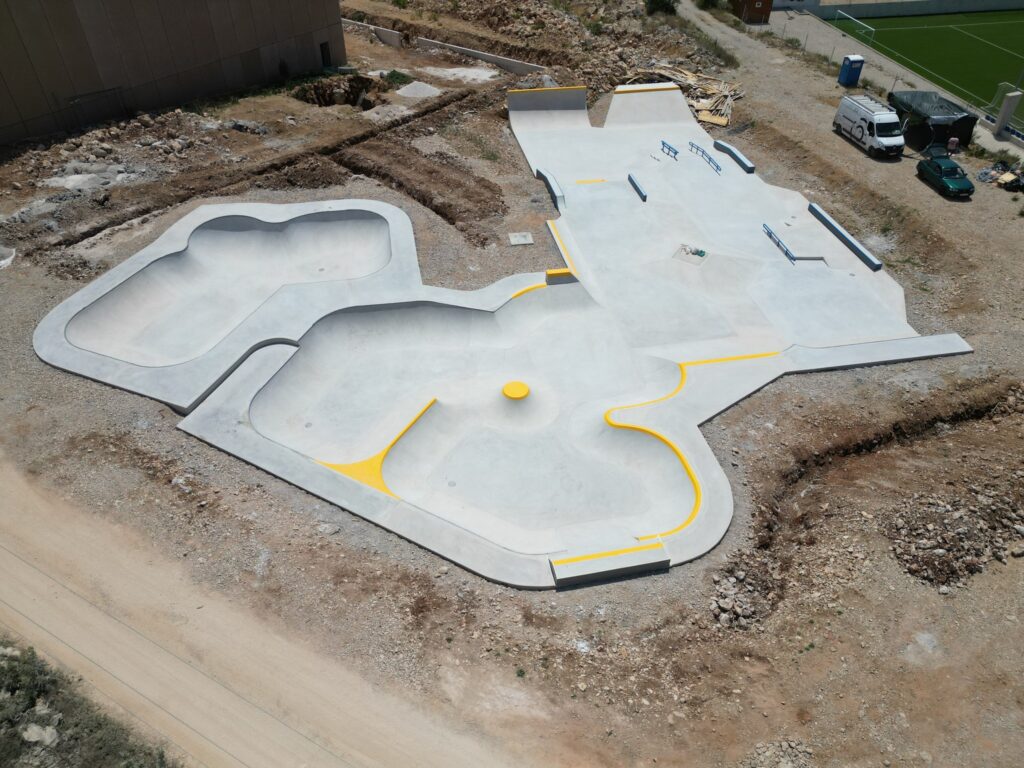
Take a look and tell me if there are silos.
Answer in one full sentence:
No, no silo is visible in the scene.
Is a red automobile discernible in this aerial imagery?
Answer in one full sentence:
No, there's no red automobile here.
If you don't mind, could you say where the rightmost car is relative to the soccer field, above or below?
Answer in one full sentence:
From this view, the rightmost car can be seen below the soccer field.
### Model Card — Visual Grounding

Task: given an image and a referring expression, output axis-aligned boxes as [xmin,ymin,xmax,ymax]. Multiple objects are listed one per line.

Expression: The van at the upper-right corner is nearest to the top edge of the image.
[831,91,909,157]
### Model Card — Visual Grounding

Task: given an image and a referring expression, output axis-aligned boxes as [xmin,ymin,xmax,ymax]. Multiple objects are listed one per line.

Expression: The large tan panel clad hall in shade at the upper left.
[0,0,345,155]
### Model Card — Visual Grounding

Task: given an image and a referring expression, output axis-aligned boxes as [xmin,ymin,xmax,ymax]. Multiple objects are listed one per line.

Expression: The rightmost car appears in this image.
[915,145,978,195]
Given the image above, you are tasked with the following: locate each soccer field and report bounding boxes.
[823,10,1024,134]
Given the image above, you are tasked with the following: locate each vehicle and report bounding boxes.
[831,91,909,157]
[915,145,978,195]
